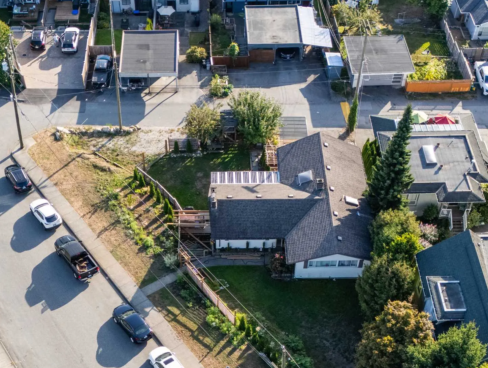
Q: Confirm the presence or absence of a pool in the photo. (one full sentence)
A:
No, I find no pool anywhere in the image.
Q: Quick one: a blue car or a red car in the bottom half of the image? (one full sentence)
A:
The one visible in the bottom half of the image is a blue car.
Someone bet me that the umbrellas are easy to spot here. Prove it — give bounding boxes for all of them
[413,105,432,127]
[434,104,462,128]
[157,6,175,18]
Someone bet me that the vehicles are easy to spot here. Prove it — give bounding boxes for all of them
[279,47,296,61]
[27,195,62,234]
[147,342,183,368]
[30,26,48,50]
[90,56,111,88]
[474,61,488,96]
[62,29,80,54]
[54,233,99,285]
[1,161,32,196]
[111,298,155,347]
